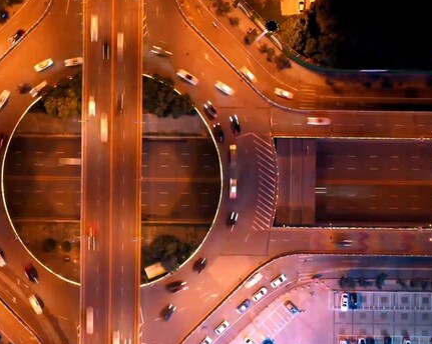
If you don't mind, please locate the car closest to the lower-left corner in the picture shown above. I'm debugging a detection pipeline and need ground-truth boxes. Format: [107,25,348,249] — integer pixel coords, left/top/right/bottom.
[30,295,43,312]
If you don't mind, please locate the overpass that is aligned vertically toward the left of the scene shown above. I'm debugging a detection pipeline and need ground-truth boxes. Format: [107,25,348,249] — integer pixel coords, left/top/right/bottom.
[80,0,143,344]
